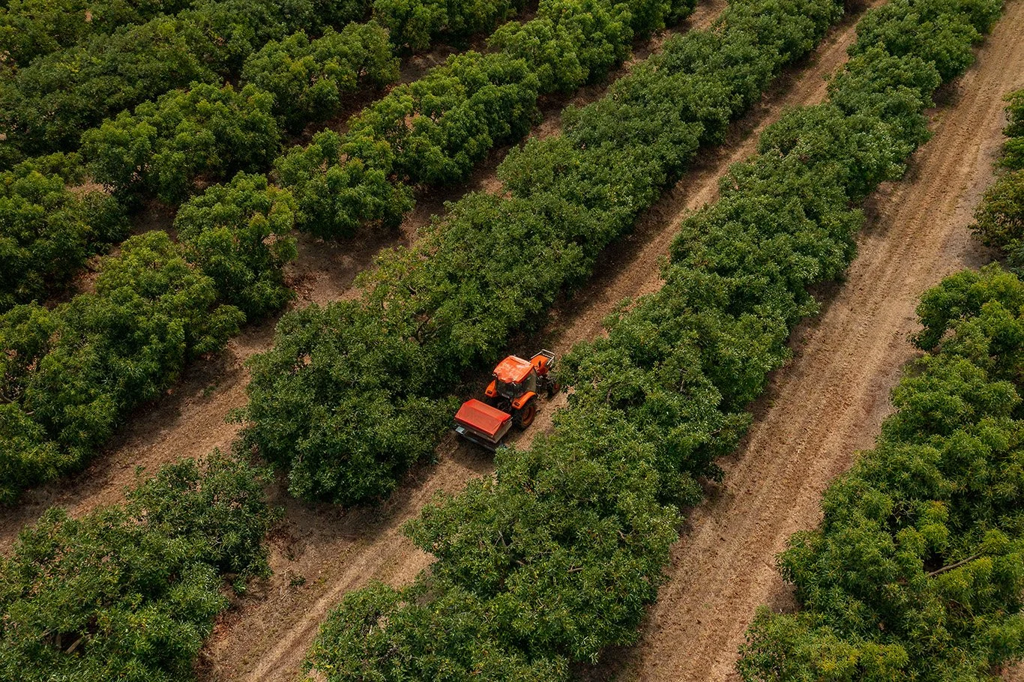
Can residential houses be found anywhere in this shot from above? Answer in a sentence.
No, this view has no residential house in it.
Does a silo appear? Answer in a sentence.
No, the frame has no silo in it.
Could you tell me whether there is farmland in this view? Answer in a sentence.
No, the scene doesn't show any farmland.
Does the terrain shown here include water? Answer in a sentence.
No, no water is visible.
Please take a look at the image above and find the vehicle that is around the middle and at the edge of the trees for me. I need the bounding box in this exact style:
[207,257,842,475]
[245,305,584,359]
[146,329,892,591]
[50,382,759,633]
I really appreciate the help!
[481,348,556,432]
